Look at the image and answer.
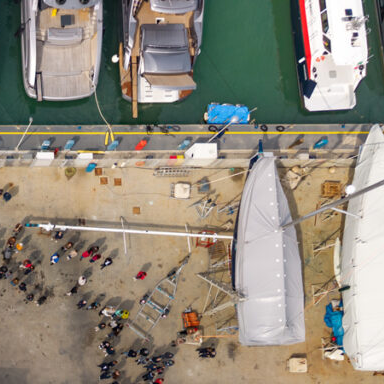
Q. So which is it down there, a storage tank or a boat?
boat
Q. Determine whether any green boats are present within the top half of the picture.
No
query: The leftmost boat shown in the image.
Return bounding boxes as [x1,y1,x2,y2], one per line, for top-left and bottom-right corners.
[17,0,100,102]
